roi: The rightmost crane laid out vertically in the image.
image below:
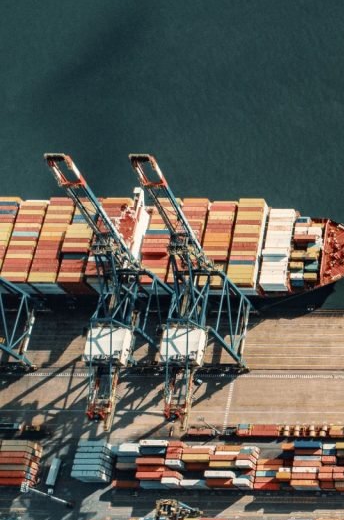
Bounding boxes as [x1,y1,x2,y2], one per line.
[131,154,267,429]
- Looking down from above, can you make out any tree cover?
No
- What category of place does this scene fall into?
port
